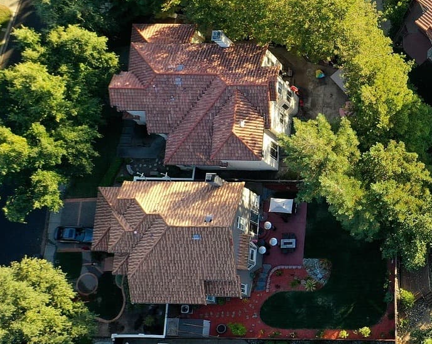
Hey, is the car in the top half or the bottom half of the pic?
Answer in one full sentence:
It is in the bottom half that the car appears.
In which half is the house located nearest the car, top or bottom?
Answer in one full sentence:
It is in the bottom half that the house located nearest the car appears.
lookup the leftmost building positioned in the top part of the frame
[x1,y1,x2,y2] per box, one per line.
[108,22,295,172]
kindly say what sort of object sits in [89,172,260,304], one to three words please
house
